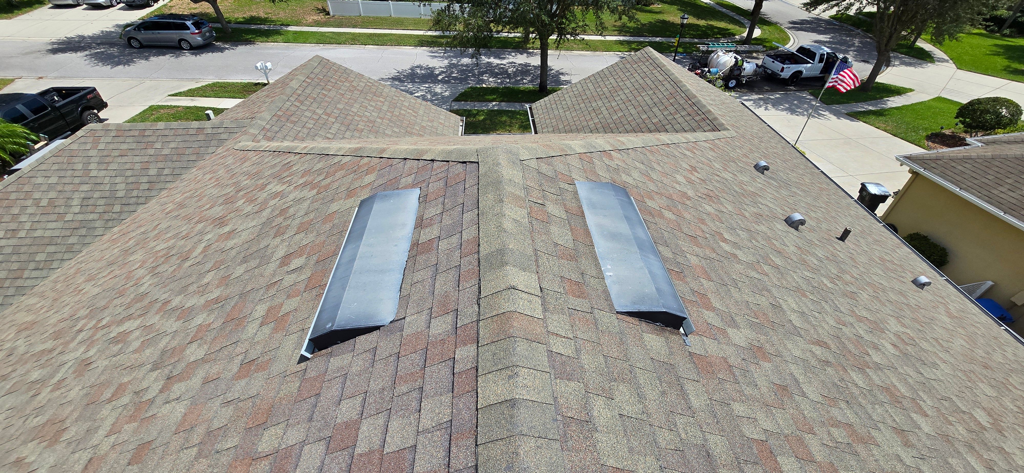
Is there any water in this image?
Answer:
No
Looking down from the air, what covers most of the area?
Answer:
buildings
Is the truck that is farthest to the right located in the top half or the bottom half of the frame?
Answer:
top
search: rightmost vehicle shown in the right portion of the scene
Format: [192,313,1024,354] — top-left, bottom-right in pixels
[757,38,863,87]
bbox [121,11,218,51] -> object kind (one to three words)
car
